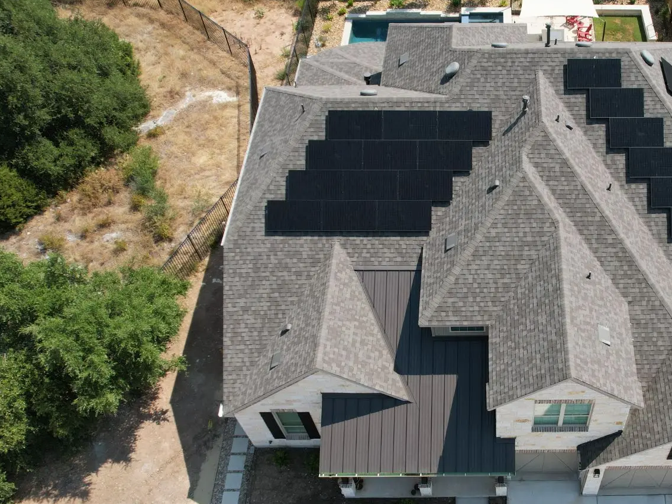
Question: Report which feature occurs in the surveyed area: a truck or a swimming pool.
swimming pool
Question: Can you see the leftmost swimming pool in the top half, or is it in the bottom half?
top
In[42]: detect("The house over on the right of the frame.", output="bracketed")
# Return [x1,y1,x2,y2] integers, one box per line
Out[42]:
[217,14,672,496]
